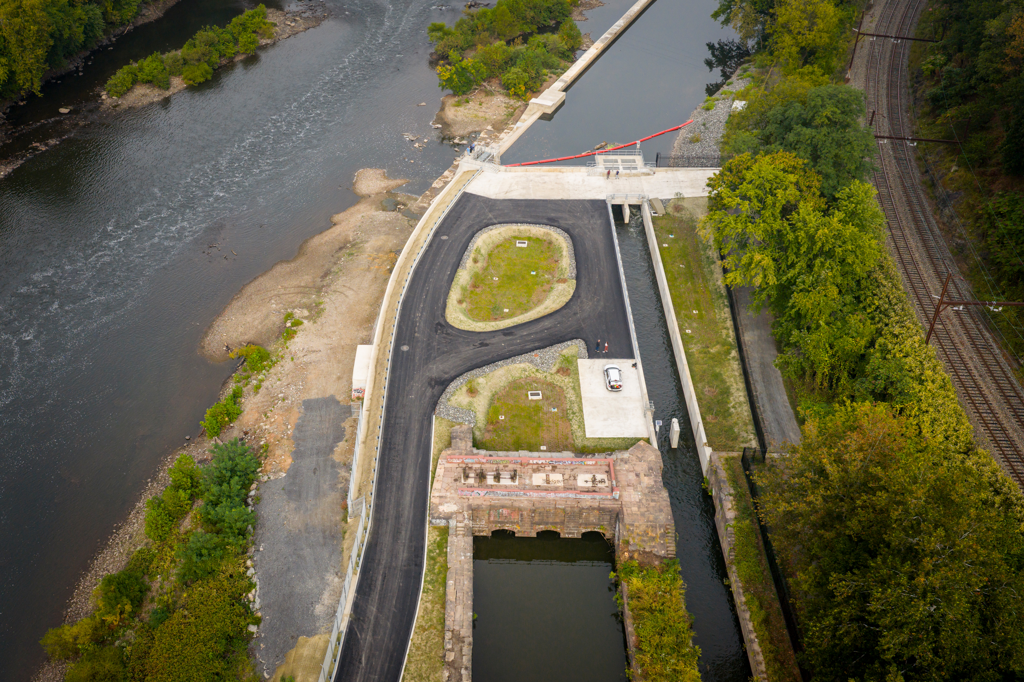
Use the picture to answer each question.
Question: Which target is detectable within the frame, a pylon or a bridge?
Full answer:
I can see a bridge in this picture.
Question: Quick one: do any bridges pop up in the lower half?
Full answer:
No, I see no bridge in the lower half.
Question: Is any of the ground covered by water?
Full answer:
Yes, some water is visible.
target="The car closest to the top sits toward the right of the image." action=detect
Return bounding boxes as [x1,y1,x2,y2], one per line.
[603,366,627,395]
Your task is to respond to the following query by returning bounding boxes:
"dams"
[480,0,654,159]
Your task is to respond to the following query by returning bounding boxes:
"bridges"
[606,187,650,226]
